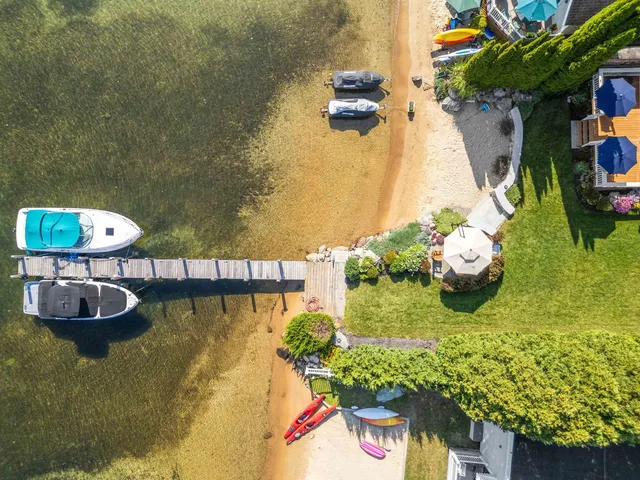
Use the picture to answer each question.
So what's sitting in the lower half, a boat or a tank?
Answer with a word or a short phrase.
boat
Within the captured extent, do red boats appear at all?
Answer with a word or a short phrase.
Yes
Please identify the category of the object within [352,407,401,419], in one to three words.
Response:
boat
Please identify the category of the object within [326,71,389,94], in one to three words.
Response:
boat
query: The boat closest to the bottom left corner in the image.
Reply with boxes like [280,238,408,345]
[26,279,141,319]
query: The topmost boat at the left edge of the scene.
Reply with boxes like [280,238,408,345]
[14,208,147,255]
